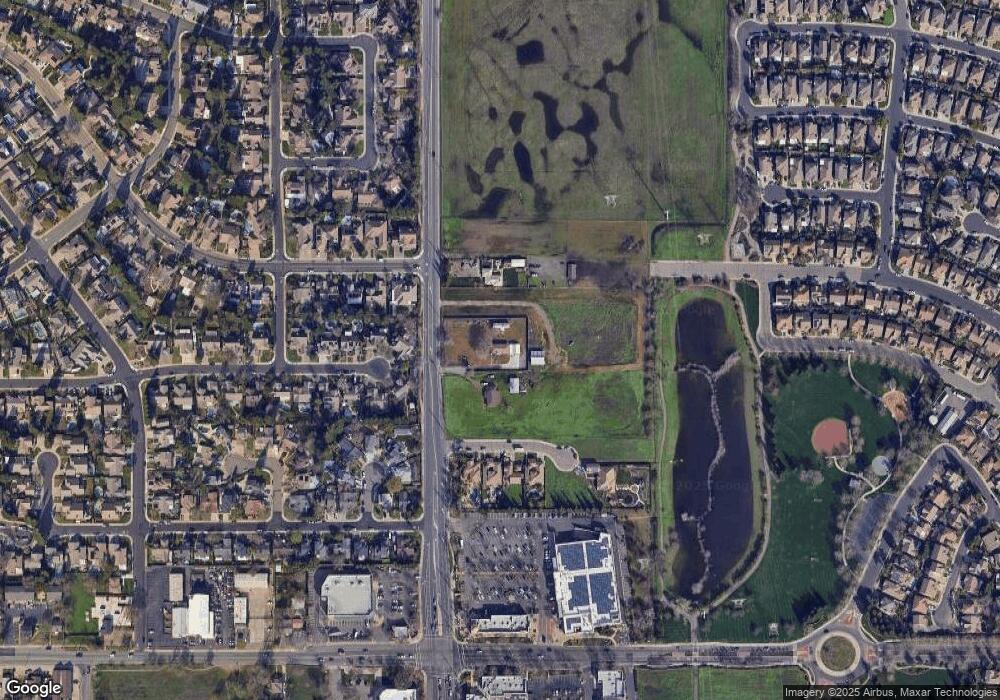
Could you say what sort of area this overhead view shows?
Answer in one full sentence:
What you see here is a residential area.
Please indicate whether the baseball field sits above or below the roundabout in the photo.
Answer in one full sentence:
The baseball field appears above the roundabout in the picture.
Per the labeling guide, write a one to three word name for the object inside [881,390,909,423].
playground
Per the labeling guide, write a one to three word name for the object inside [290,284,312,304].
house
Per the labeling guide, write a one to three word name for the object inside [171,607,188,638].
building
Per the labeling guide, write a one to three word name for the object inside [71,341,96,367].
house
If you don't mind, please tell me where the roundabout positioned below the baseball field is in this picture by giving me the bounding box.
[798,610,876,690]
